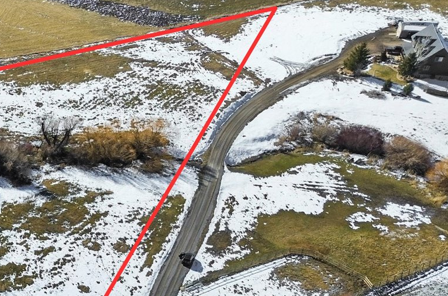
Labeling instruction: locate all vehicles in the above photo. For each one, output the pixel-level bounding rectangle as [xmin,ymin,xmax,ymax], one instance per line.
[180,256,199,269]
